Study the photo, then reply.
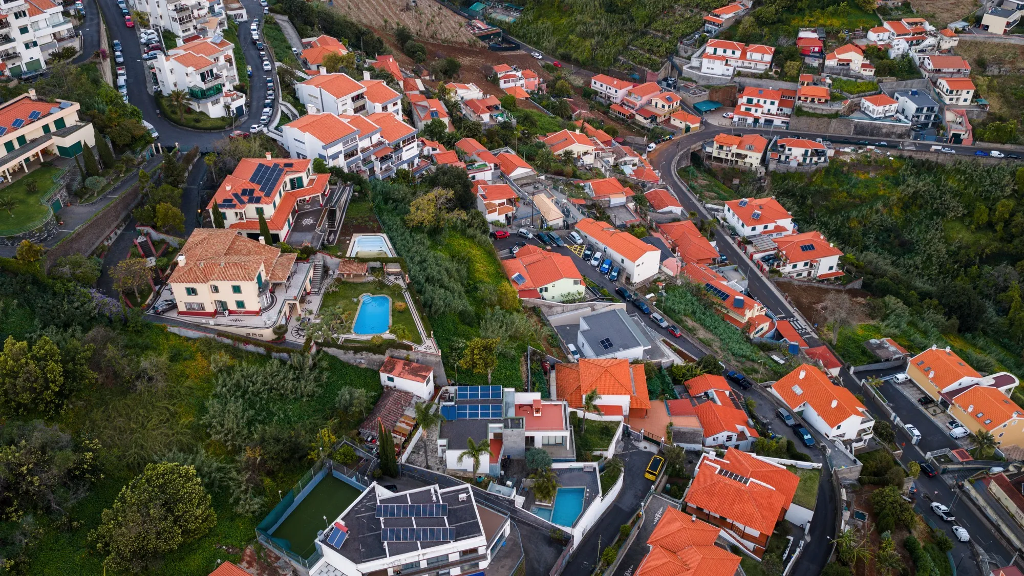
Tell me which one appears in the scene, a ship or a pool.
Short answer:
pool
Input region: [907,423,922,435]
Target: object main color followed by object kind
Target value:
white vehicle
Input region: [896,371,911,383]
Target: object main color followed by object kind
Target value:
white vehicle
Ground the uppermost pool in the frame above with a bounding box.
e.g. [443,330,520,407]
[351,234,392,257]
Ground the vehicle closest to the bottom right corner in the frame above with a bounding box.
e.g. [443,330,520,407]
[952,524,975,543]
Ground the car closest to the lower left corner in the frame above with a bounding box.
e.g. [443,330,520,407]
[149,299,177,316]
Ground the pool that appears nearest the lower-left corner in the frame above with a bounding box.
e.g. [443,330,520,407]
[350,295,394,336]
